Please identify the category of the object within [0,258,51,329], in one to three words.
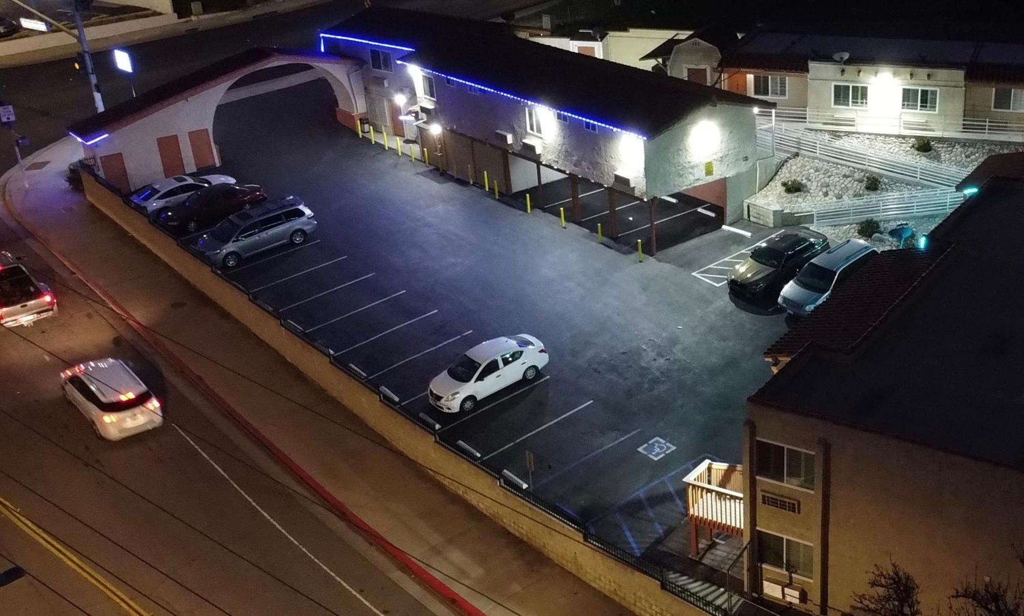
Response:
truck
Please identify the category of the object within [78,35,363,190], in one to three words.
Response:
building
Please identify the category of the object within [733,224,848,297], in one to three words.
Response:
car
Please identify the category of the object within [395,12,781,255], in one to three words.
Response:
building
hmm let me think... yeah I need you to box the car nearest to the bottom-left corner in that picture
[59,357,155,438]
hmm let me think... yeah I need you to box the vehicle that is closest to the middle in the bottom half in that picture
[416,333,547,415]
